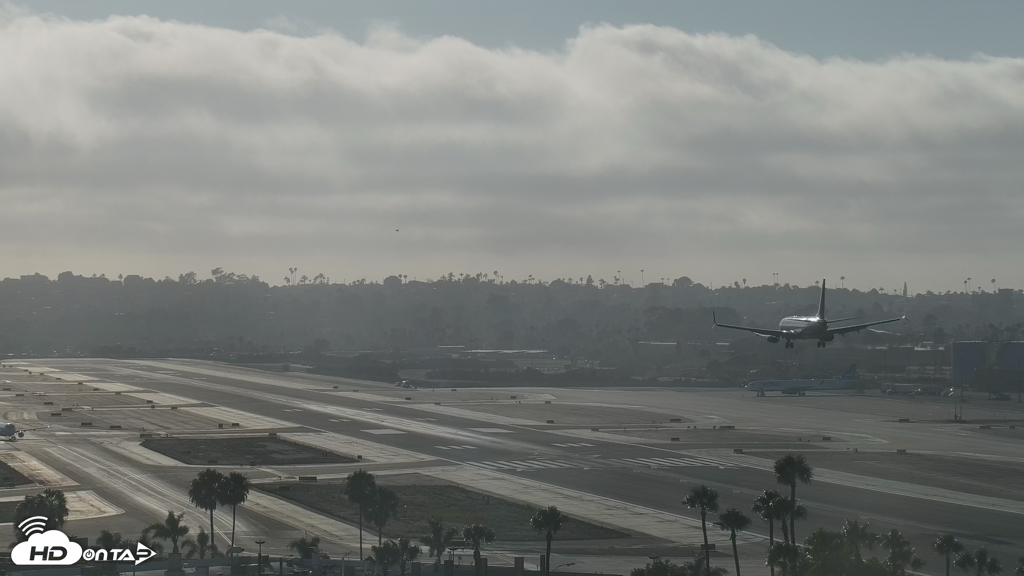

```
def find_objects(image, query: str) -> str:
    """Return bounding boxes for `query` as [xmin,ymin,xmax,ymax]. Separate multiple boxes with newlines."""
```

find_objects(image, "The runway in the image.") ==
[33,358,1024,576]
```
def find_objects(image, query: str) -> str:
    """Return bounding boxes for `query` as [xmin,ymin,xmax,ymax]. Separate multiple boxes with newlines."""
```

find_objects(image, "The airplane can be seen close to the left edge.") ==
[0,418,44,440]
